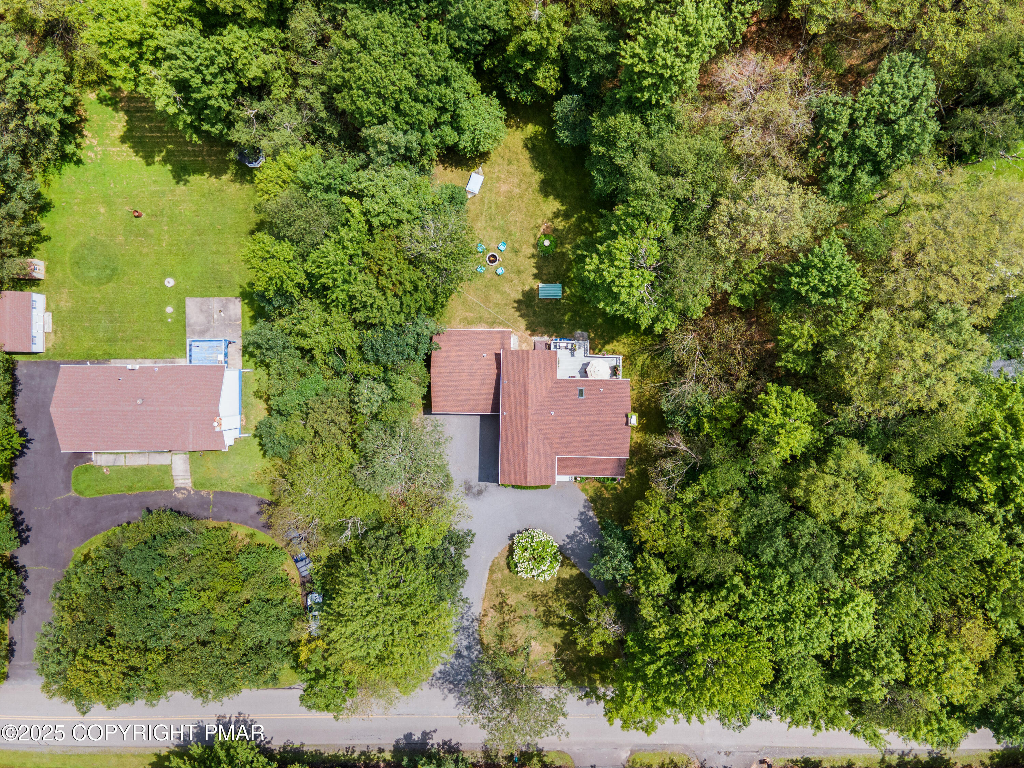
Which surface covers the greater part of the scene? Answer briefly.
trees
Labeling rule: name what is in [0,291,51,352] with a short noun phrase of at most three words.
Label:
shed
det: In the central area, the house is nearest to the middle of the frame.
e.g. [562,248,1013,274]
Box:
[431,328,637,486]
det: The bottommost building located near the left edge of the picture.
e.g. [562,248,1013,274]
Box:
[49,360,253,461]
